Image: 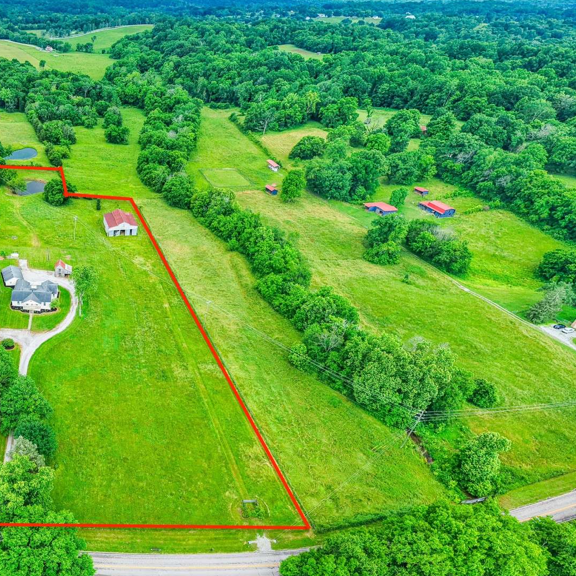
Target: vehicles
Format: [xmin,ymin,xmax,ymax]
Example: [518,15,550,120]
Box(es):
[555,324,567,330]
[564,329,575,334]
